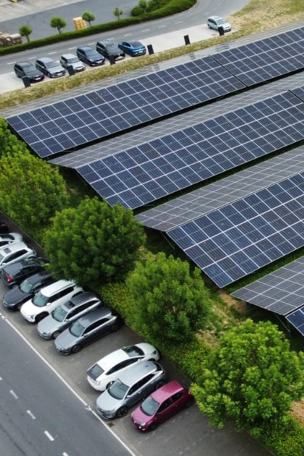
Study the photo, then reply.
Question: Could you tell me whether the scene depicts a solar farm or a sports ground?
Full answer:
It's a solar farm.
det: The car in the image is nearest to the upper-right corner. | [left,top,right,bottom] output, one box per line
[204,13,228,29]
